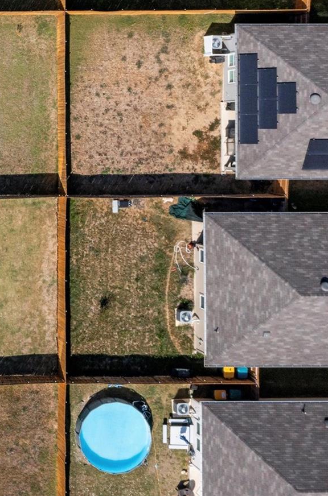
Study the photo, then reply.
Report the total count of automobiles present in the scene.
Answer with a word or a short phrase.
zero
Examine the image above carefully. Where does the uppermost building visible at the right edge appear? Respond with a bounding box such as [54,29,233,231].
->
[220,24,328,179]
